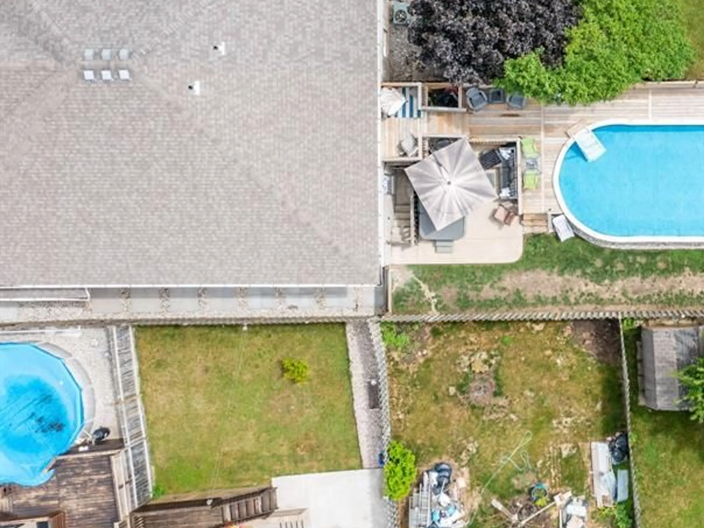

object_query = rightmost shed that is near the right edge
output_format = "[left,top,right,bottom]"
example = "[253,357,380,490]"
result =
[633,324,704,410]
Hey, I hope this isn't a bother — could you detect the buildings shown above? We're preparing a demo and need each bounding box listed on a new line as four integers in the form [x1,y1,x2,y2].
[0,0,388,302]
[633,324,704,410]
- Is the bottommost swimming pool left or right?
left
